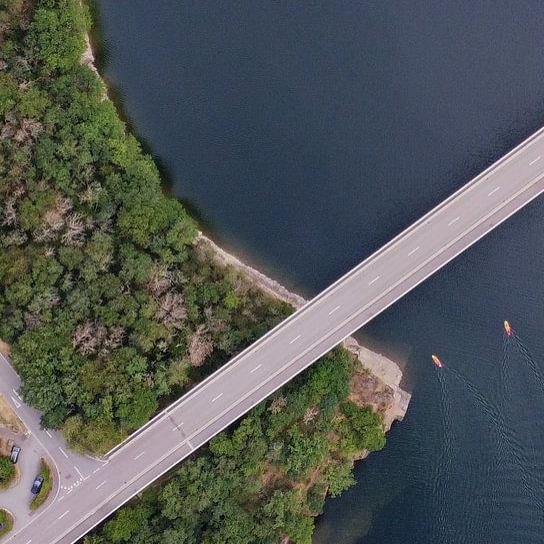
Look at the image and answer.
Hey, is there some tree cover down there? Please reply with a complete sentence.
Yes, there is tree cover in the image.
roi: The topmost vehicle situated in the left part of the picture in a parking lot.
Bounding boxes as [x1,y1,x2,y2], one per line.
[10,445,22,463]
